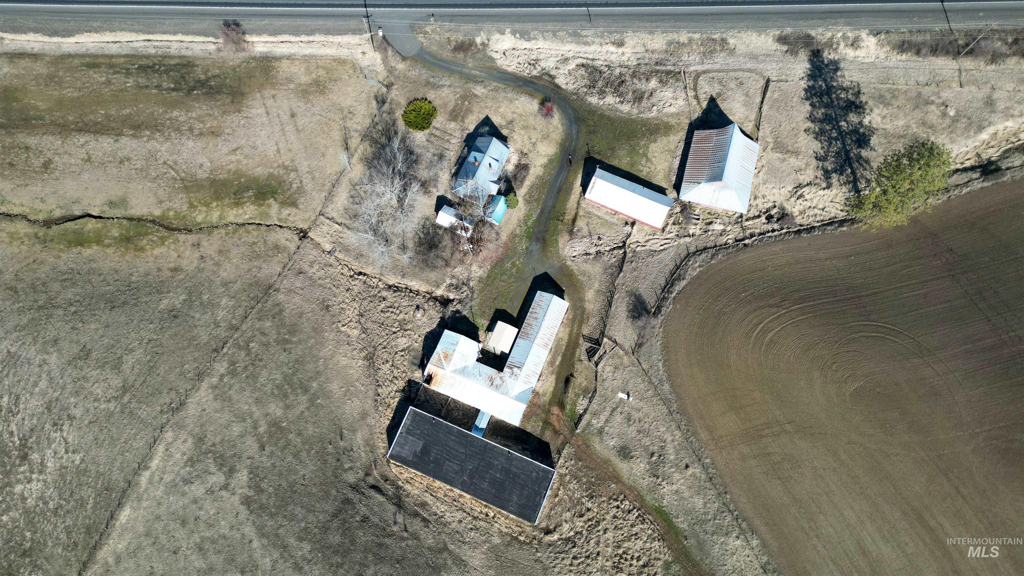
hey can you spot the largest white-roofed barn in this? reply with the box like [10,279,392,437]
[422,291,569,426]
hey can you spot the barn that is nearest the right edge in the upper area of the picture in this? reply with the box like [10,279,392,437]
[679,122,759,214]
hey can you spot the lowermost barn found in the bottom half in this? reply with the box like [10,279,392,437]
[387,406,556,525]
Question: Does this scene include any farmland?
Yes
